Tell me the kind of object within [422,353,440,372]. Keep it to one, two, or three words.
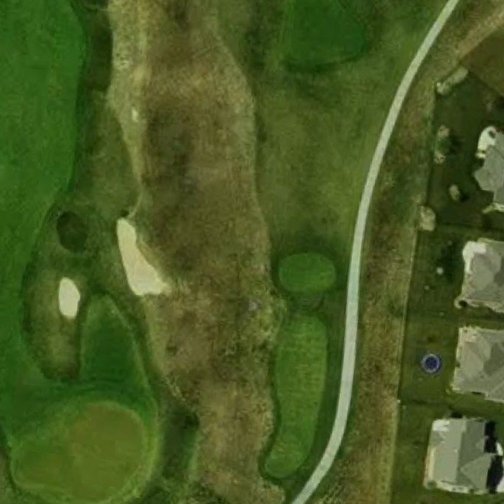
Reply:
trampoline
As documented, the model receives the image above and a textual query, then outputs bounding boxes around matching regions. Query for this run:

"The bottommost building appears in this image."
[430,419,494,495]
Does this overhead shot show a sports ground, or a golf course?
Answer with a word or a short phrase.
golf course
